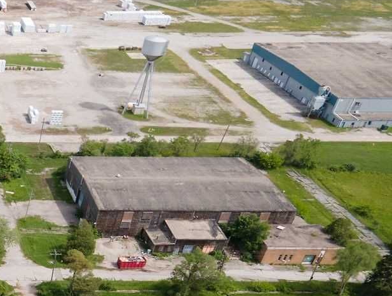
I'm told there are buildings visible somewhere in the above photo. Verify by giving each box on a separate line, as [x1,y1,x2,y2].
[246,43,392,128]
[63,156,297,238]
[251,224,350,266]
[130,101,148,114]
